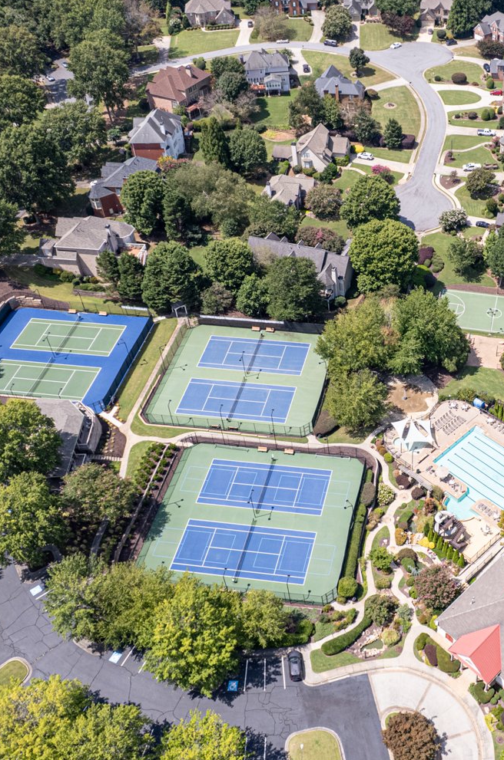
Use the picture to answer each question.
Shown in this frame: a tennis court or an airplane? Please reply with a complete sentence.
This aerial view contains a tennis court.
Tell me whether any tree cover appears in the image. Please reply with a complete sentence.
Yes, some tree cover is visible.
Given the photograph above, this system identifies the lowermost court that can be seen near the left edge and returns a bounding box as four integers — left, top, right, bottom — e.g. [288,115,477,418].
[0,352,127,412]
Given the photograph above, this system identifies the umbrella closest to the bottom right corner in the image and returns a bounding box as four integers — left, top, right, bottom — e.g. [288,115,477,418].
[434,465,451,482]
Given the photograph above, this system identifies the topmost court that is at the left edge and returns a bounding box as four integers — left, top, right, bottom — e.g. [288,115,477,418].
[0,307,149,362]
